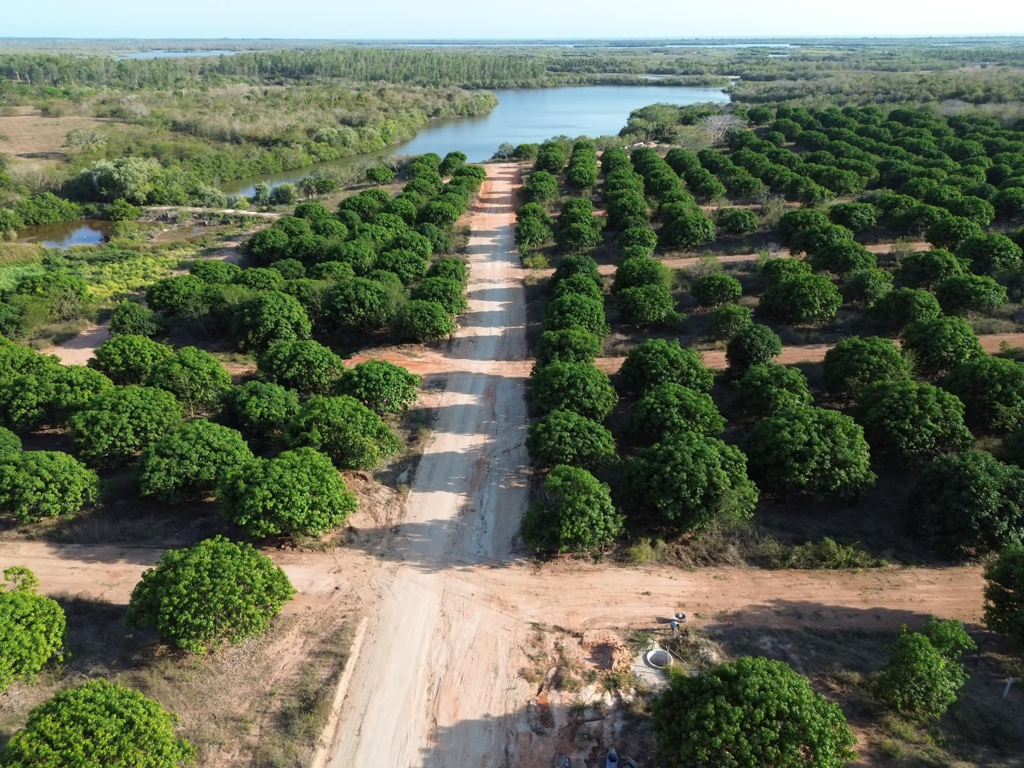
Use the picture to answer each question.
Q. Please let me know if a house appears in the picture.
No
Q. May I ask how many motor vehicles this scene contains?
0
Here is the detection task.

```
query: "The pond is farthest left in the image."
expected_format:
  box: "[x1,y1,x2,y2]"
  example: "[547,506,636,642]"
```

[14,219,141,250]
